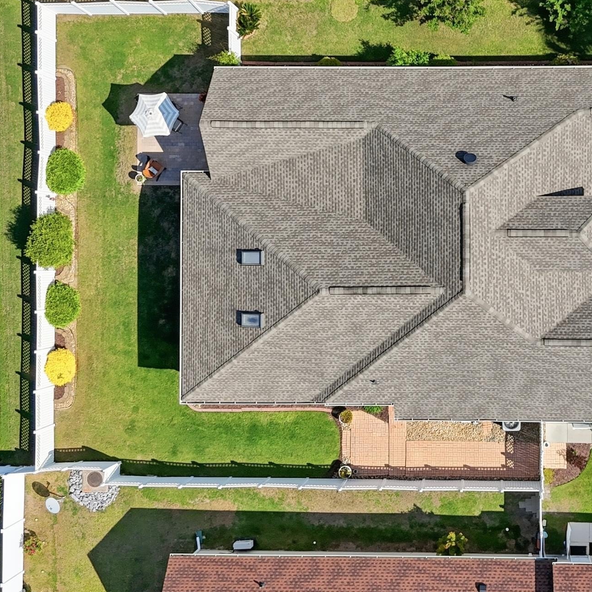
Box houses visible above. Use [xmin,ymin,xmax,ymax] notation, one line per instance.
[162,537,592,592]
[178,64,592,426]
